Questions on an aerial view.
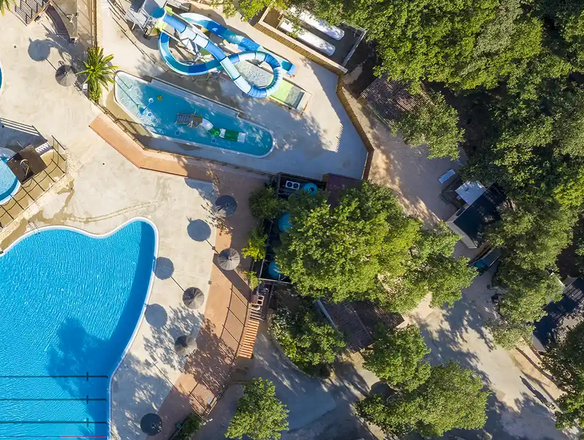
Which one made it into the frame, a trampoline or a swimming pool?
swimming pool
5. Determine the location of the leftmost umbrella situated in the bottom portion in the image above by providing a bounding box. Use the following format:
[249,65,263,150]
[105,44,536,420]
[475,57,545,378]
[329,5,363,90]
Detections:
[139,412,162,435]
